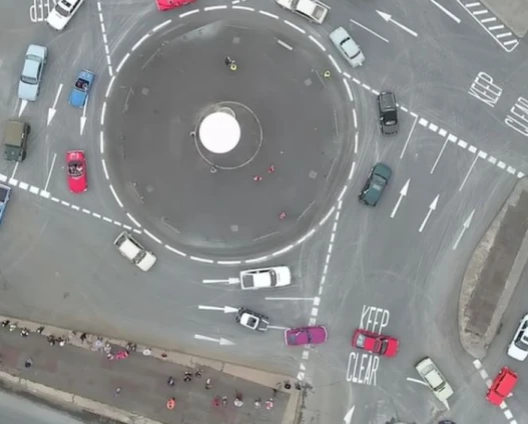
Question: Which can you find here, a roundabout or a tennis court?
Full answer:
There is a roundabout in the scene.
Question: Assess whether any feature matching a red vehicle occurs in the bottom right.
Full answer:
Yes, a red vehicle can be seen in the bottom right.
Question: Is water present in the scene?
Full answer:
No, the picture contains no water.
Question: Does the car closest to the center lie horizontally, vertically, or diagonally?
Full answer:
Seen from above, the car closest to the center lies horizontally.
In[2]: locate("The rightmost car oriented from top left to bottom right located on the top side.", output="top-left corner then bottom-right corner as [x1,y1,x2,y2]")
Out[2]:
[329,27,365,68]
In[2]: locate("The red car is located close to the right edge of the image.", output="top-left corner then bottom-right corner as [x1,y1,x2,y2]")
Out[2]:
[485,367,515,405]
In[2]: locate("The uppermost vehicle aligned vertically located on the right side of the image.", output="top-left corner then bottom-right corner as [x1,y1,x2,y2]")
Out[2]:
[376,95,399,139]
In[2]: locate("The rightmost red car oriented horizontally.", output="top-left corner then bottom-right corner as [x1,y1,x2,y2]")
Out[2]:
[351,329,399,356]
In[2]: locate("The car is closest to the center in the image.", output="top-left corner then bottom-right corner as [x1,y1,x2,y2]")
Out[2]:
[240,265,292,288]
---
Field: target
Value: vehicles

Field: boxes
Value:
[66,150,88,194]
[49,0,85,31]
[376,95,399,139]
[485,367,515,405]
[19,44,48,102]
[351,329,399,356]
[115,231,157,270]
[235,306,270,332]
[360,162,390,206]
[156,0,195,10]
[506,312,528,361]
[415,356,453,400]
[329,27,365,68]
[0,182,13,226]
[240,265,292,288]
[70,68,96,107]
[285,323,328,346]
[276,0,328,25]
